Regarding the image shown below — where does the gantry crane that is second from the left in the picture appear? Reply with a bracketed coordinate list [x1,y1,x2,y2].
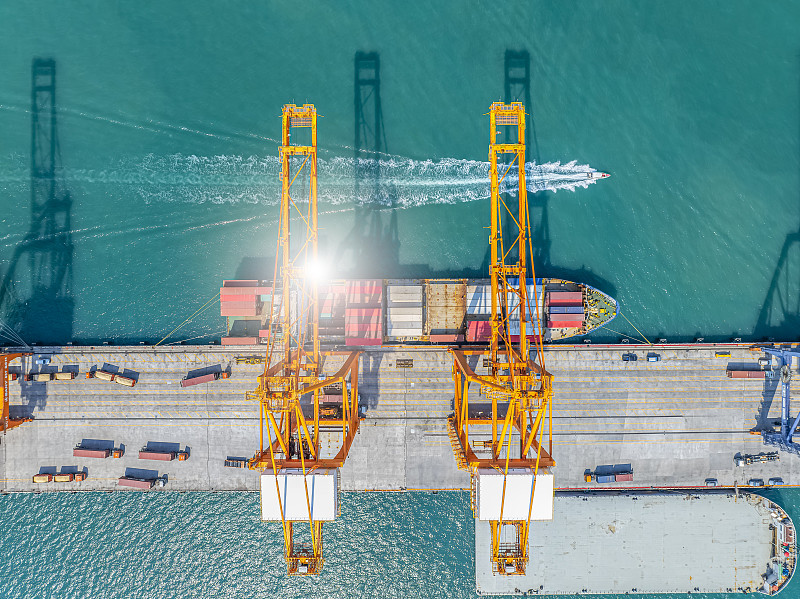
[247,95,370,574]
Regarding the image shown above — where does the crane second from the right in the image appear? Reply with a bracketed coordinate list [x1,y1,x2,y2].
[438,94,558,572]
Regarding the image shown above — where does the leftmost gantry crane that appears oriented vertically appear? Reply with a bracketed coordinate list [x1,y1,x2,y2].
[0,351,38,433]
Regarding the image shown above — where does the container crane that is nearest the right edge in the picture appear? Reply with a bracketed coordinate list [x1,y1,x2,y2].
[749,347,800,456]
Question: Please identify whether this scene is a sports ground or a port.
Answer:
port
